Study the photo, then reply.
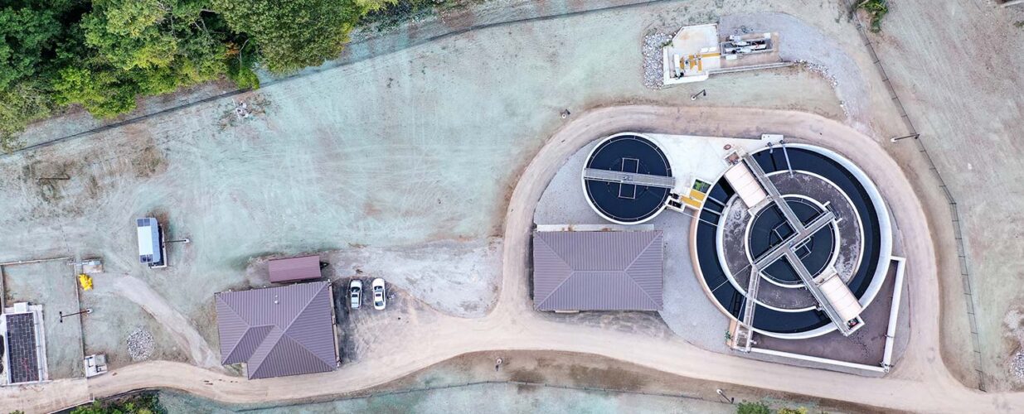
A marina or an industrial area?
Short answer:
industrial area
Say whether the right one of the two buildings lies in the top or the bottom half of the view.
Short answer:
bottom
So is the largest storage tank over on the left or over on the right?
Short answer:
right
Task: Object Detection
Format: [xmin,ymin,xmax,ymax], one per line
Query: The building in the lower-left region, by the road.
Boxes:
[214,278,343,381]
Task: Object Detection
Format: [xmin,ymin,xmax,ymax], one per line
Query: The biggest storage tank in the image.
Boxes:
[682,139,891,351]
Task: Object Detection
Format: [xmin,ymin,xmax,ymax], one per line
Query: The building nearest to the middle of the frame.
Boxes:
[532,230,664,312]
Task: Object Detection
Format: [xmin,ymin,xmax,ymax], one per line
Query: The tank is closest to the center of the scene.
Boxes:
[581,132,677,224]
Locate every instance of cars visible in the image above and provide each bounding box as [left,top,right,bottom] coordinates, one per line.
[348,280,362,310]
[371,279,385,310]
